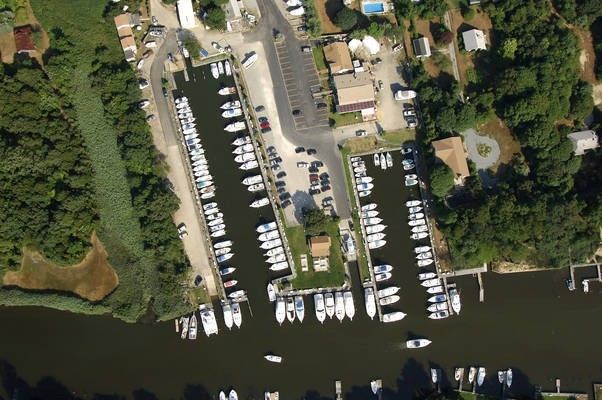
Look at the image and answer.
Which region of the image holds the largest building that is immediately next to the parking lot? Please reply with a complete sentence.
You can find the largest building that is immediately next to the parking lot in the top area of the picture.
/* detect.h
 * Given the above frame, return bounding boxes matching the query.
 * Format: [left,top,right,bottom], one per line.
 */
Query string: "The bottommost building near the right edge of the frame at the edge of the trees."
[566,130,598,155]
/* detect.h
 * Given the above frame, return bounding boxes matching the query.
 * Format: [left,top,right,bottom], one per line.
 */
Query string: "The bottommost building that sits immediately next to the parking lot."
[334,75,375,114]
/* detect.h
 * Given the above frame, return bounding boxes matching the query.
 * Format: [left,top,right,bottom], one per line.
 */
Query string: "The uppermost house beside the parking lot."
[323,41,353,75]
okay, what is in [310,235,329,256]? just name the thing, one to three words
house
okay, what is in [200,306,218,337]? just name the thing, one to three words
boat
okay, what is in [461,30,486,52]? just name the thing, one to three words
house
